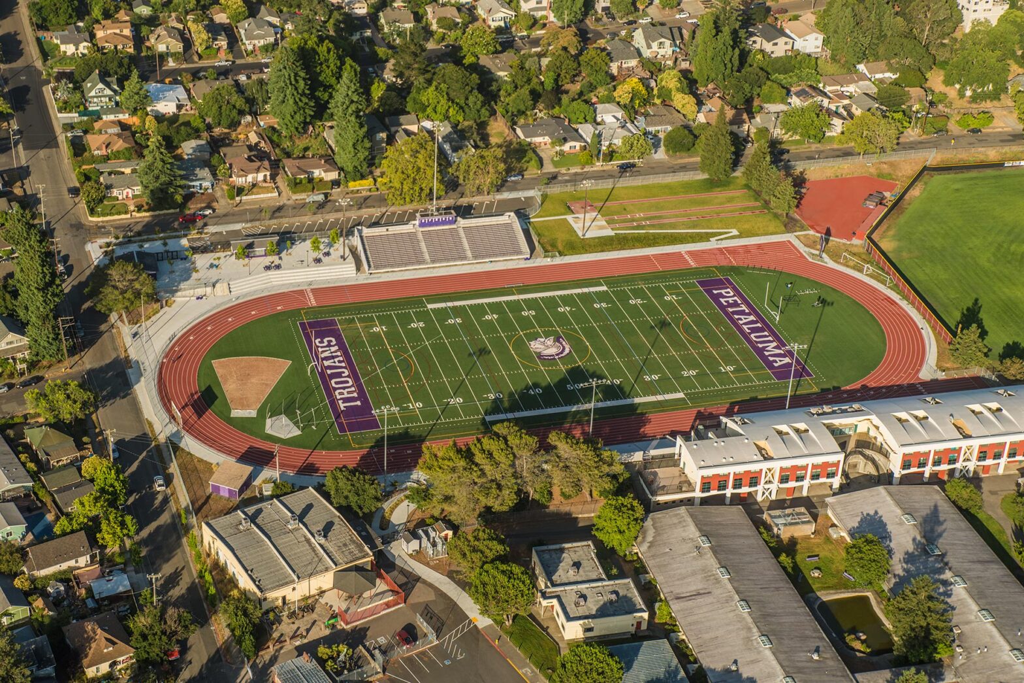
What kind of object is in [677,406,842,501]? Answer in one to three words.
building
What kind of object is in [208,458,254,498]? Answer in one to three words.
shed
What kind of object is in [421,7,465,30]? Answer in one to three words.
house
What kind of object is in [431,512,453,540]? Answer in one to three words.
shed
